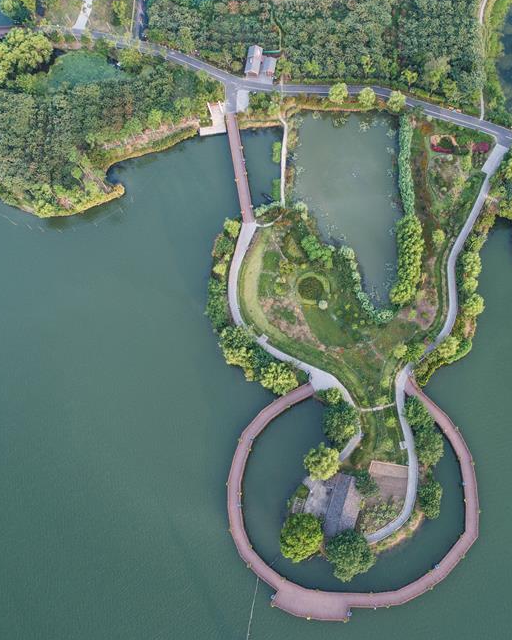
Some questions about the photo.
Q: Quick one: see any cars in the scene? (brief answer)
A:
No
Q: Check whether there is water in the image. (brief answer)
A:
Yes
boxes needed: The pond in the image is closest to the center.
[289,110,401,304]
